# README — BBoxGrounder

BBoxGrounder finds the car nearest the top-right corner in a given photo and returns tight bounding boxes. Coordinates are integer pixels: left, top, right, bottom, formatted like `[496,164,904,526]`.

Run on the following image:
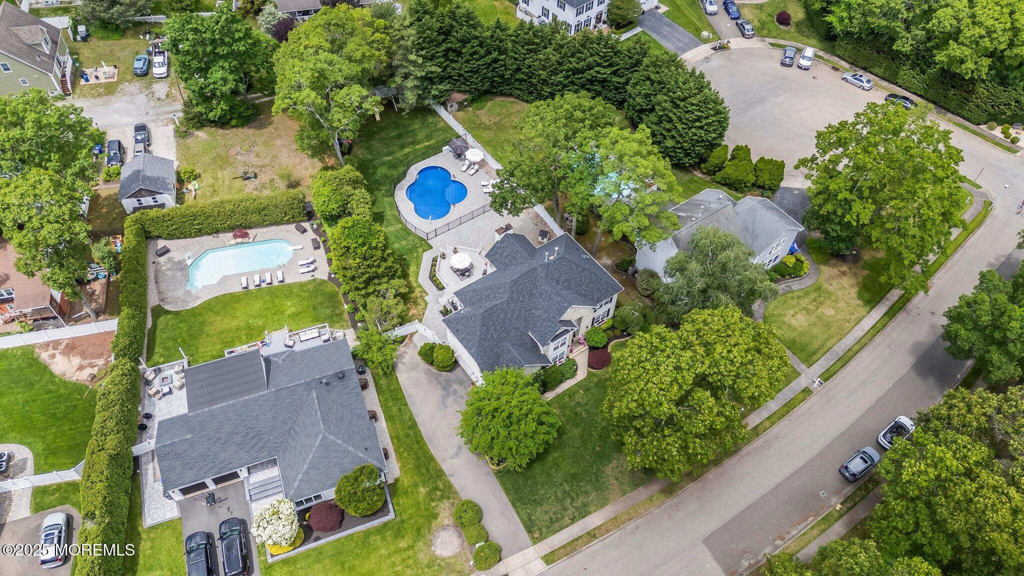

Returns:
[884,96,914,110]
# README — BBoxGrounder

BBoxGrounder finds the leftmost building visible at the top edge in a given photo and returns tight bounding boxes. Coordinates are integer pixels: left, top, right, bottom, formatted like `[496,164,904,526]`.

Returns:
[0,1,75,97]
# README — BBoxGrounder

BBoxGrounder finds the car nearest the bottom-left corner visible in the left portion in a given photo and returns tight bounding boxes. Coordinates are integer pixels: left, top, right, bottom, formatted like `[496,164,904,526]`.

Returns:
[37,512,70,571]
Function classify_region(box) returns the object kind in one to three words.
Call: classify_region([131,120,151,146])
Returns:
vehicle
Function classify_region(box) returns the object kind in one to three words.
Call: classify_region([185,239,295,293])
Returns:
swimming pool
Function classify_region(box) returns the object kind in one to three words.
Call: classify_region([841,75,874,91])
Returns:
car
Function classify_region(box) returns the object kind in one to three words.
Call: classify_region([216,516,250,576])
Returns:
car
